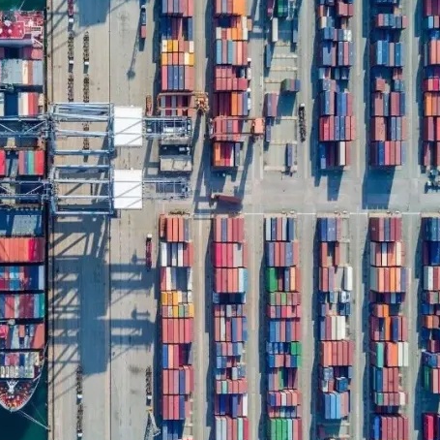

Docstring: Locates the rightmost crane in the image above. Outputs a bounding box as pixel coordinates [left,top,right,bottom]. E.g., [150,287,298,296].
[204,115,268,143]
